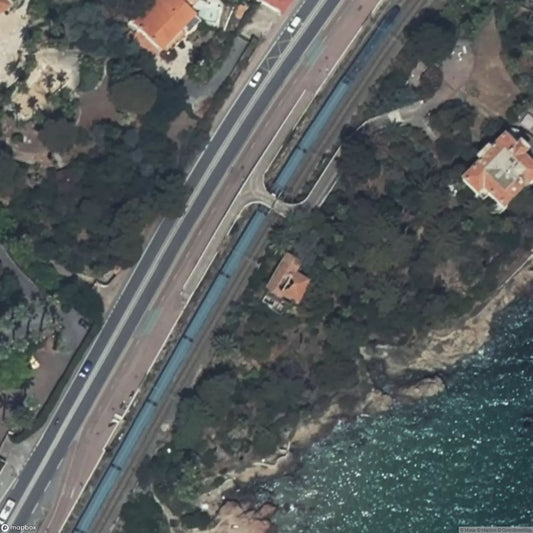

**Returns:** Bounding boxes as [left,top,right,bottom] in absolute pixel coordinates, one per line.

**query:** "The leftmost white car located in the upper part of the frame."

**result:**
[247,70,262,87]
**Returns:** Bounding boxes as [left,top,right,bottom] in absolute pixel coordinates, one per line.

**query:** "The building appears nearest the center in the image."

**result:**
[262,252,310,311]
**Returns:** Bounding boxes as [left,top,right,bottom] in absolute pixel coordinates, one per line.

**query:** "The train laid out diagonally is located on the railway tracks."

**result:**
[74,8,399,533]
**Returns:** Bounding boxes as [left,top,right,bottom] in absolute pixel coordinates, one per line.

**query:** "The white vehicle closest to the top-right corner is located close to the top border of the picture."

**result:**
[287,16,302,33]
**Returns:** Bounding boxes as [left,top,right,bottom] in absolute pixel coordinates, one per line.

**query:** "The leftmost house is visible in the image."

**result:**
[128,0,202,54]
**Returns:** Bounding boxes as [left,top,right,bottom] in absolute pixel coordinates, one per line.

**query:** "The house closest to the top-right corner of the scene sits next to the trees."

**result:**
[463,131,533,215]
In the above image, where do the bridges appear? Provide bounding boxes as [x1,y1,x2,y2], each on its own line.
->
[256,189,302,219]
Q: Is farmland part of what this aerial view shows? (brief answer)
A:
No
